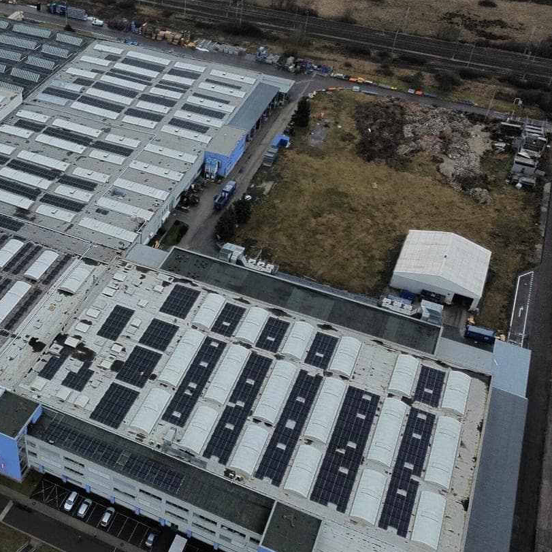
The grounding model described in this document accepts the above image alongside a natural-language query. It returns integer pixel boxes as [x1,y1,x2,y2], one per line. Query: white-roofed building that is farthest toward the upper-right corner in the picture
[391,231,490,312]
